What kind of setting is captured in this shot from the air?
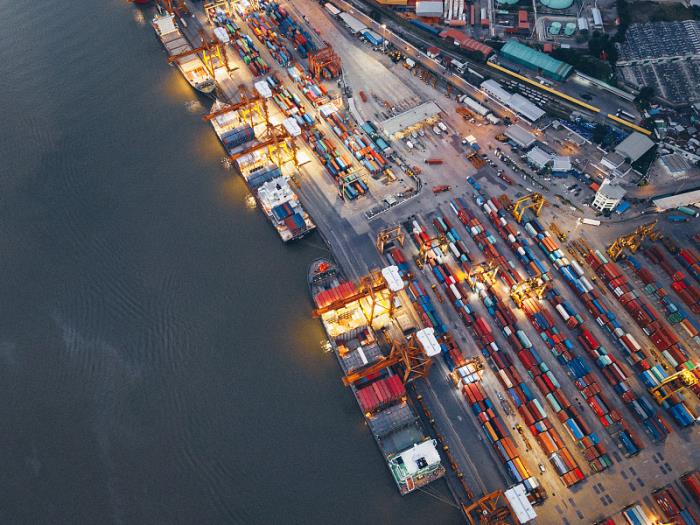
port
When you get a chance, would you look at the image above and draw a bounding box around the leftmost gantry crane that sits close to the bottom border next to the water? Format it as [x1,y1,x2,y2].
[471,479,543,525]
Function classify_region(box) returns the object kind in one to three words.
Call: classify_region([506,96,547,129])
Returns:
building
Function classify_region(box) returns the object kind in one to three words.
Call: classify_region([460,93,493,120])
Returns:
shed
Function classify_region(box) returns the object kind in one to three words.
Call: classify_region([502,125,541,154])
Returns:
shed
